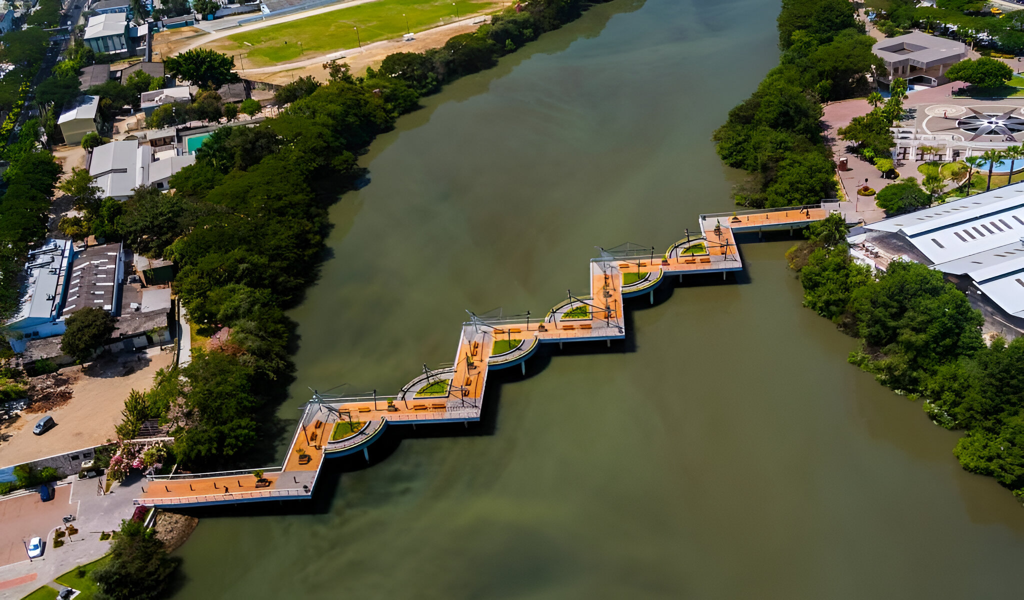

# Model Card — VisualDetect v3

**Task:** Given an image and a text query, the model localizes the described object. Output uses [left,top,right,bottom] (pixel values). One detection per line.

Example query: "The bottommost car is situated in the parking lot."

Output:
[27,538,42,558]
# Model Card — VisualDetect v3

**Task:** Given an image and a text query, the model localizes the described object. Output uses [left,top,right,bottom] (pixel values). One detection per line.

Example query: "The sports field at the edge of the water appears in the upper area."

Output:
[150,0,527,94]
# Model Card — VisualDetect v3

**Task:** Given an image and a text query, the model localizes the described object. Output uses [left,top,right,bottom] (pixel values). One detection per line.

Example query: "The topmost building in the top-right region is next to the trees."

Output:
[872,31,964,91]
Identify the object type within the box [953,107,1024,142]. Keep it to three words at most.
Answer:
fountain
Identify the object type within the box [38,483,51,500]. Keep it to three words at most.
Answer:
vehicle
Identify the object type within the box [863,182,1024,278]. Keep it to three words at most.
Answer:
building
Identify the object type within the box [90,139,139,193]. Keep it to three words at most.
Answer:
building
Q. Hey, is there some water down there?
Yes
